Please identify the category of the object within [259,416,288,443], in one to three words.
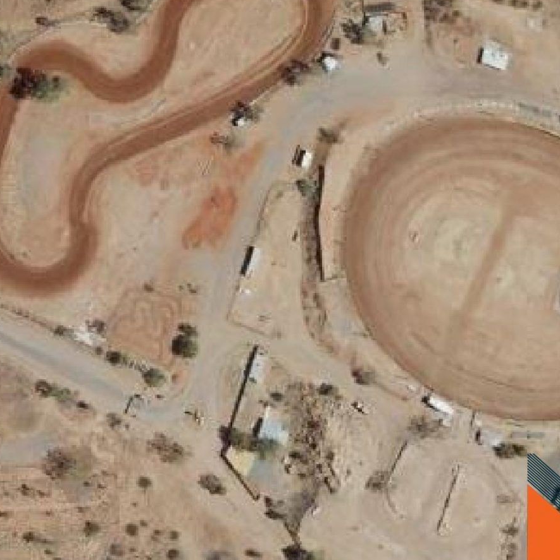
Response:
house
